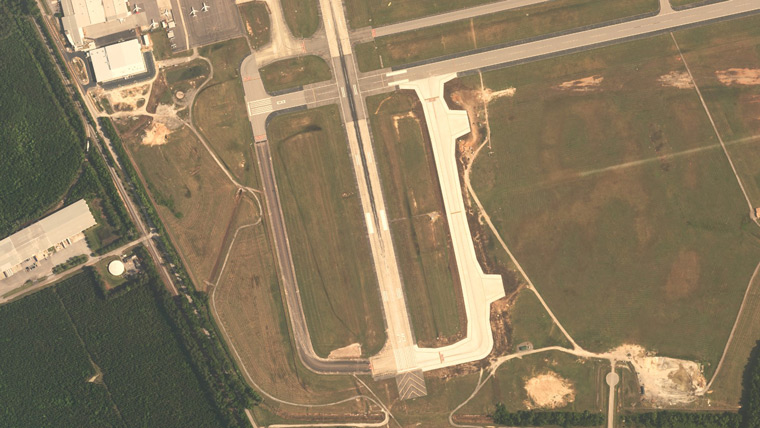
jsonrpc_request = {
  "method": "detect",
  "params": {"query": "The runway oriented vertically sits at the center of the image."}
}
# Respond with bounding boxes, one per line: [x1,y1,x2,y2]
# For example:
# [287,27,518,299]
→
[317,0,421,386]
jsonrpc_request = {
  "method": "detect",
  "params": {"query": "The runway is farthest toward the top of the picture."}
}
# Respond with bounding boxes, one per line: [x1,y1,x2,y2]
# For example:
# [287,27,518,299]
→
[248,0,760,127]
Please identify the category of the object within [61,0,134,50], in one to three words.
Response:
building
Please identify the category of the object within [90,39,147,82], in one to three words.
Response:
hangar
